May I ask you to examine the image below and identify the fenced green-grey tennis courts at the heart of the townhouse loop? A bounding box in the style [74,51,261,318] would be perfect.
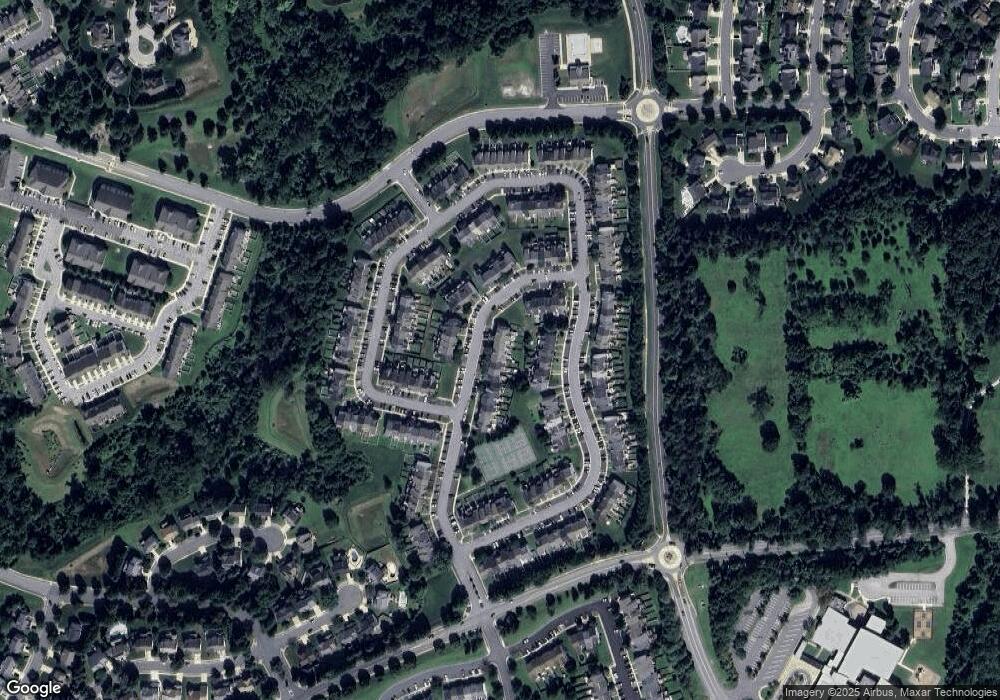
[474,427,537,481]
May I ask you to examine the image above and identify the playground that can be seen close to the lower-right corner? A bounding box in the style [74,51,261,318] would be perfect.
[911,664,940,692]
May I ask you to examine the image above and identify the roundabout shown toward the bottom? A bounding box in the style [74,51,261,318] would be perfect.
[639,533,696,580]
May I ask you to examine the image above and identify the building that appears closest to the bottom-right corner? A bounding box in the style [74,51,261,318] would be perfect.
[800,607,905,700]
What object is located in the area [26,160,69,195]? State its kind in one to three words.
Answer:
building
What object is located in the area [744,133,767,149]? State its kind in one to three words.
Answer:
house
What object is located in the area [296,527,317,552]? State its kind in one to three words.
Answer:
house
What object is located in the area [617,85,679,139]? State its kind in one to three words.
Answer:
roundabout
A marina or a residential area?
residential area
